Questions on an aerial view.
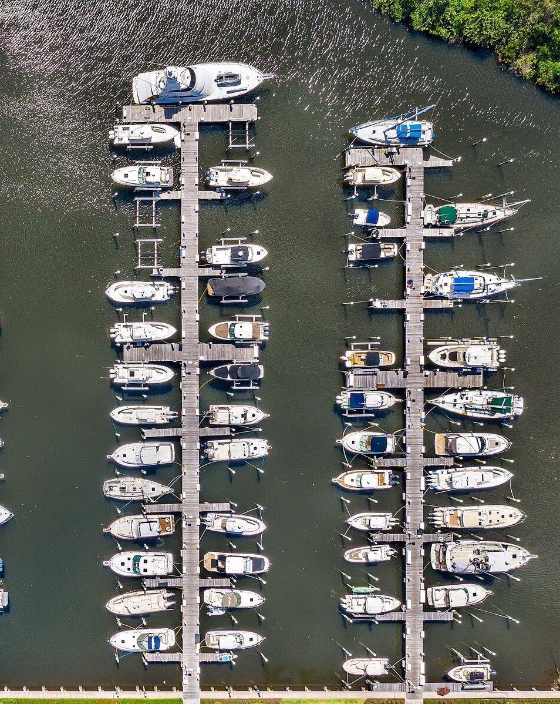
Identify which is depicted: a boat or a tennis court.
boat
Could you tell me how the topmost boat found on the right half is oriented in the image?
from side to side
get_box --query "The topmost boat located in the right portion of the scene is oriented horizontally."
[349,103,436,147]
